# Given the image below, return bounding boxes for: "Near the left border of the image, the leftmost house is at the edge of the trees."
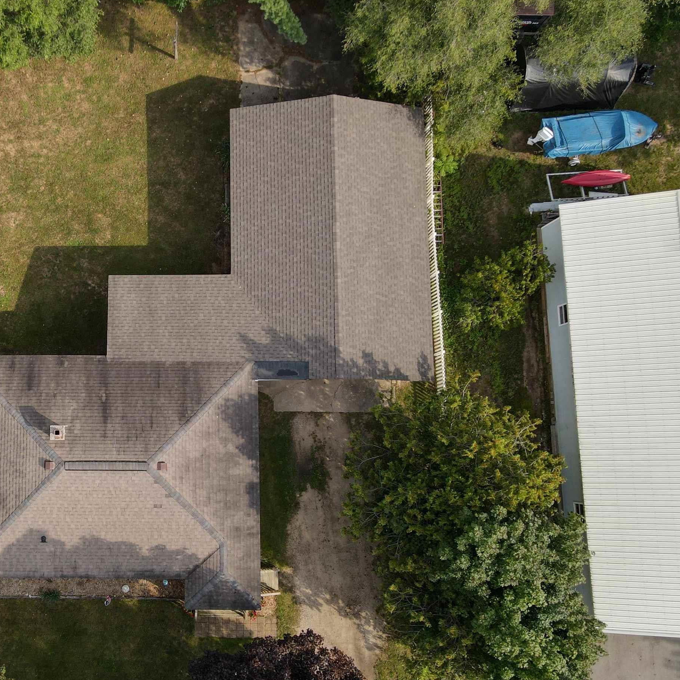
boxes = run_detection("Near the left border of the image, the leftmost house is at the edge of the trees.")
[0,354,263,613]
